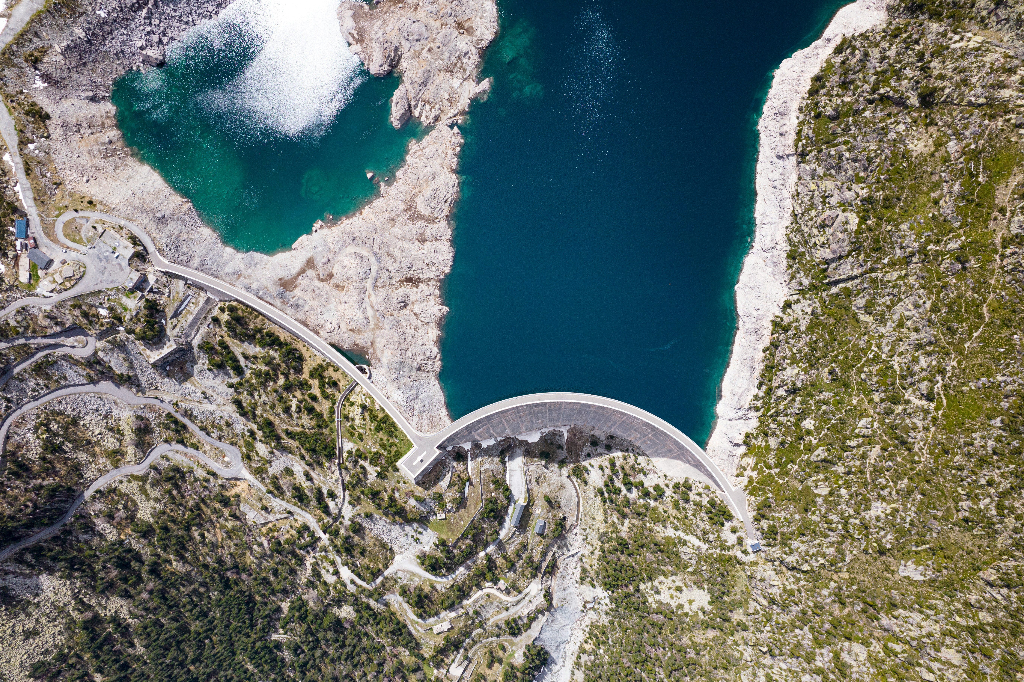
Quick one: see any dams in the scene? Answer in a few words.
Yes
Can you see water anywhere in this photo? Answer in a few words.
Yes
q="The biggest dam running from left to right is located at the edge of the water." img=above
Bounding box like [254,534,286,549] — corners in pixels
[430,390,745,521]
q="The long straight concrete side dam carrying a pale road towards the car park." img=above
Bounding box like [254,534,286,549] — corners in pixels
[154,248,432,448]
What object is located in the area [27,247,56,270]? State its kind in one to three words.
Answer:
house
